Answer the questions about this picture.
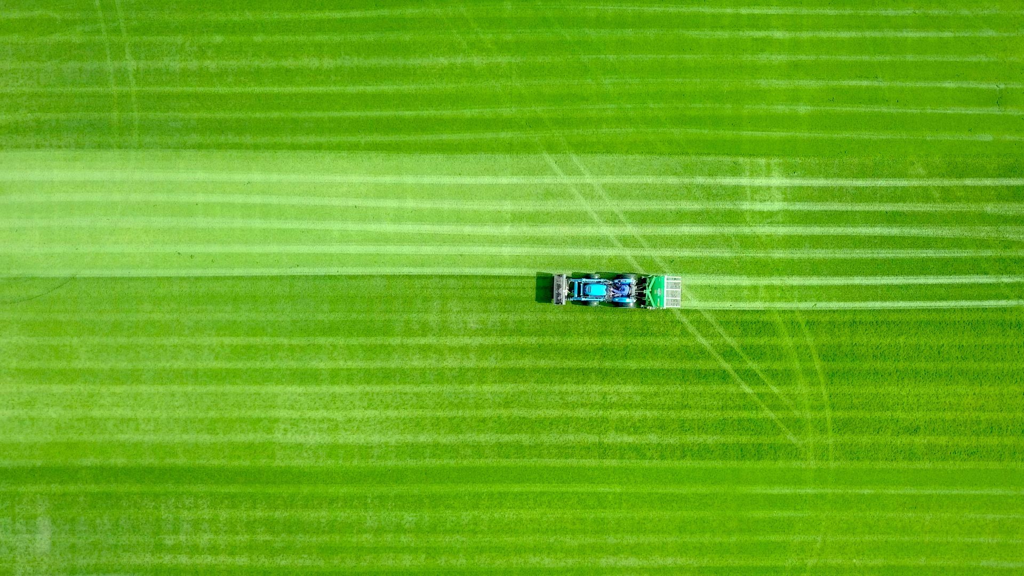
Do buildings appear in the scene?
No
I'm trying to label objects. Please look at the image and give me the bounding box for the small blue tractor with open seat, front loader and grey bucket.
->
[554,273,647,308]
